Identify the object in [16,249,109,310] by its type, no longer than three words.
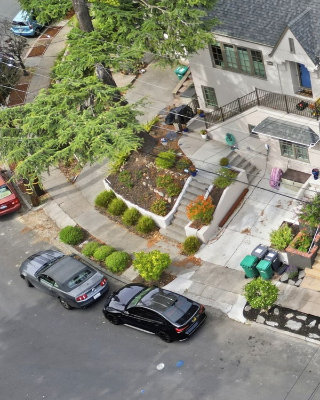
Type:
car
